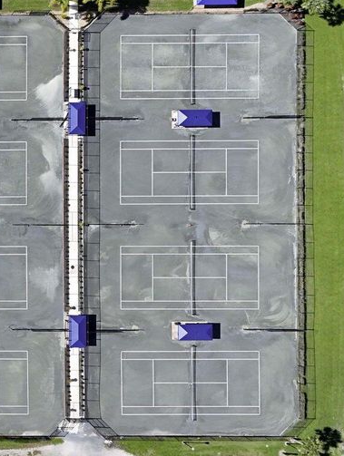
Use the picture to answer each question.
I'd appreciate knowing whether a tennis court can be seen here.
Yes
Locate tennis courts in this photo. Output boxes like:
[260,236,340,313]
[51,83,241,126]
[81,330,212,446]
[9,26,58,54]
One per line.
[0,15,64,120]
[0,120,64,226]
[85,119,297,229]
[0,328,64,438]
[0,226,64,330]
[85,221,297,330]
[85,14,296,120]
[86,327,297,438]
